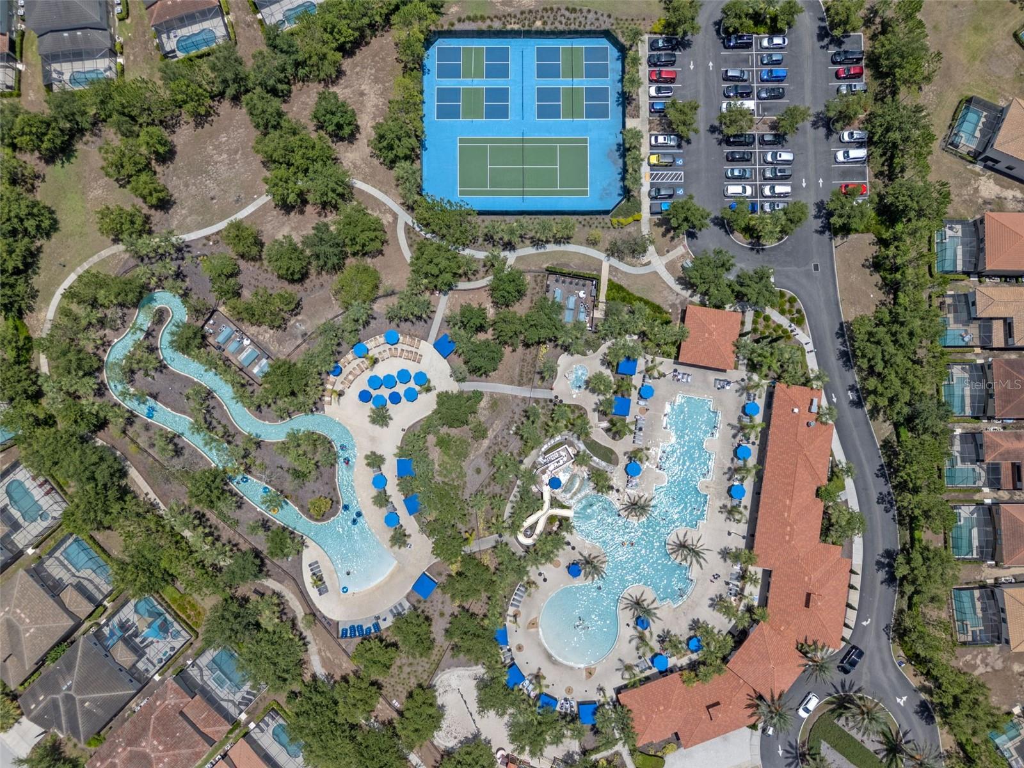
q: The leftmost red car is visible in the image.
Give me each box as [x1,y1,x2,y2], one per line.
[649,69,676,84]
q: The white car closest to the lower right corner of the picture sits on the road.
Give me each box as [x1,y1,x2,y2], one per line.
[796,692,820,718]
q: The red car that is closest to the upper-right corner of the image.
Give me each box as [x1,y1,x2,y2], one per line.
[835,65,862,80]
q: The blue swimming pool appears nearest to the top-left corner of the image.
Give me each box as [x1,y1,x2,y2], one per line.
[69,69,106,86]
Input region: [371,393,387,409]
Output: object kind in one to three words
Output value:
umbrella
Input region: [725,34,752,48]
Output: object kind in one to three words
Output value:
car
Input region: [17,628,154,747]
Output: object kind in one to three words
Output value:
house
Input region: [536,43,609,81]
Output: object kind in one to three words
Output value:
sports court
